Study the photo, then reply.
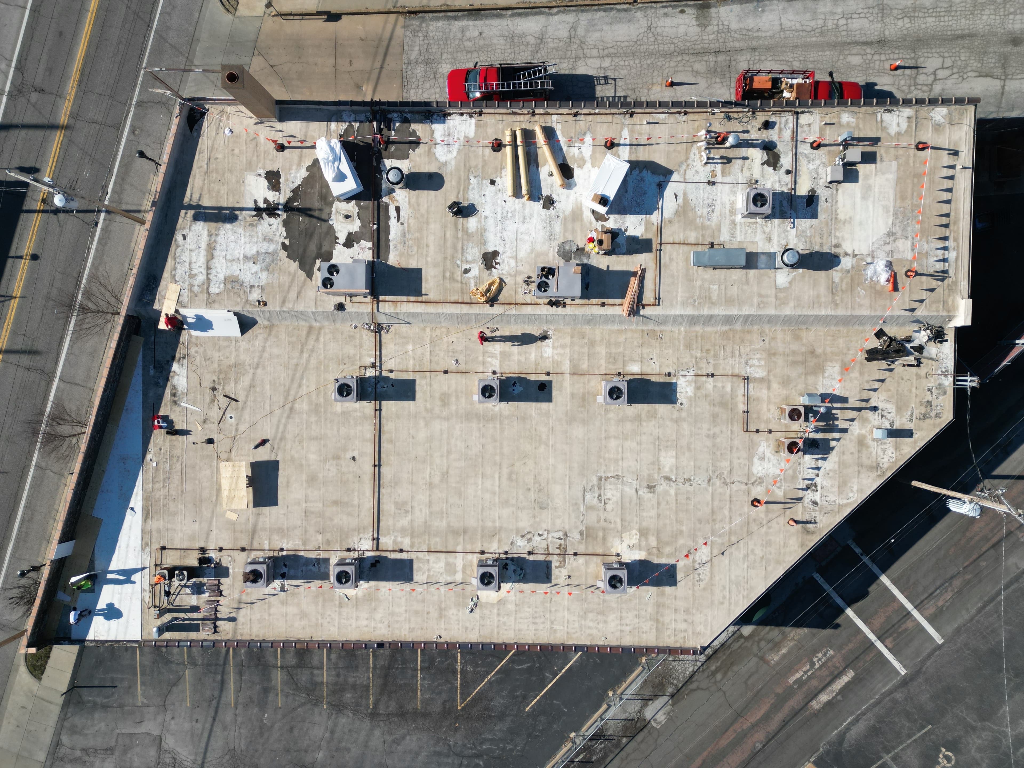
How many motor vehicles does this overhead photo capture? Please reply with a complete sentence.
The number of motor vehicles here is 2.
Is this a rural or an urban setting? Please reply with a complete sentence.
The area shown here is urban.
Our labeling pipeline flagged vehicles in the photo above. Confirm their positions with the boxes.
[731,68,862,97]
[447,61,551,98]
